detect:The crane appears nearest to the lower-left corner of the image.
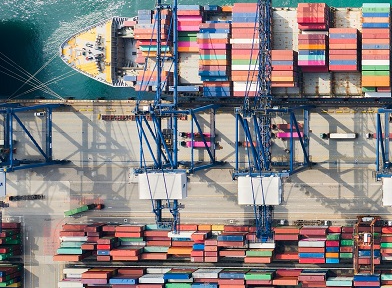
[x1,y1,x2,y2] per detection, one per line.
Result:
[0,103,76,200]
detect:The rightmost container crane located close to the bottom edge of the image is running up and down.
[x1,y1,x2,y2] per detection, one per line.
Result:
[353,211,385,275]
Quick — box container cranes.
[353,211,385,275]
[0,103,76,200]
[129,0,232,231]
[231,0,319,242]
[373,104,392,208]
